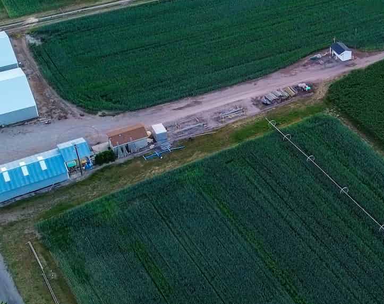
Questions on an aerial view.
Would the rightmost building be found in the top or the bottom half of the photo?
top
